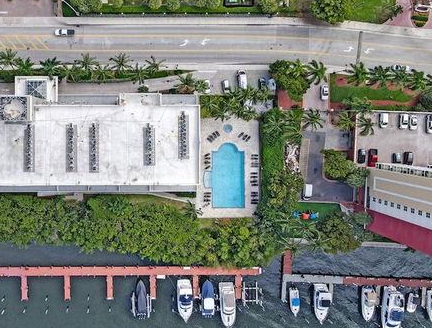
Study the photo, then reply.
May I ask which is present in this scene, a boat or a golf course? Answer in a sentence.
The one in the frame is a boat.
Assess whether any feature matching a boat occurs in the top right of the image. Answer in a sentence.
No, I can find no boat in the top right of the image.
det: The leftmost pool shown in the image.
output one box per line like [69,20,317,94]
[195,118,259,217]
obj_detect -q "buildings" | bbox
[0,75,200,194]
[358,166,432,254]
